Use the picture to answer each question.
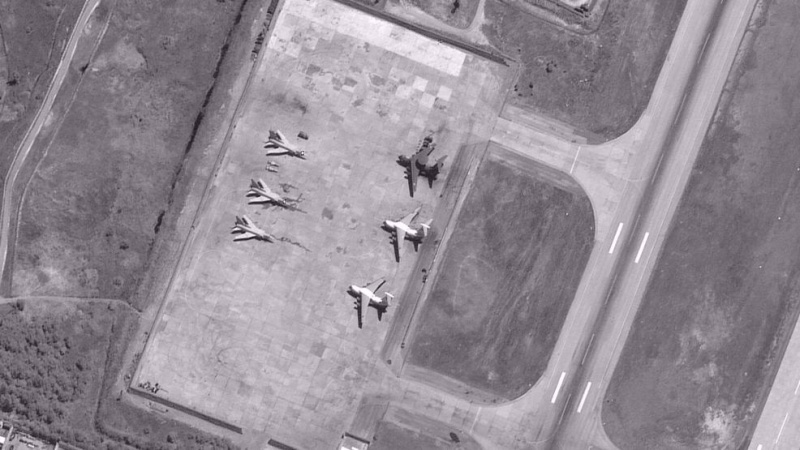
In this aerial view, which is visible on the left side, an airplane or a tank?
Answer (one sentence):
You can see an airplane on the left side.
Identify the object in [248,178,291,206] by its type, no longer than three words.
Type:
airplane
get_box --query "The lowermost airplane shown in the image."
[348,277,397,327]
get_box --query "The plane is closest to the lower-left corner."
[233,214,275,243]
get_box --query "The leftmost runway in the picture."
[512,0,761,450]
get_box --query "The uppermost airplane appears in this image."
[265,129,307,158]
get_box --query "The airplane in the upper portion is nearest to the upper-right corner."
[399,141,448,191]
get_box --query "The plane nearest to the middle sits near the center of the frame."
[384,208,433,258]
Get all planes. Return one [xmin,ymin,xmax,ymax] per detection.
[248,178,291,206]
[233,214,275,243]
[384,208,433,258]
[265,129,307,158]
[399,141,448,191]
[348,277,397,327]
